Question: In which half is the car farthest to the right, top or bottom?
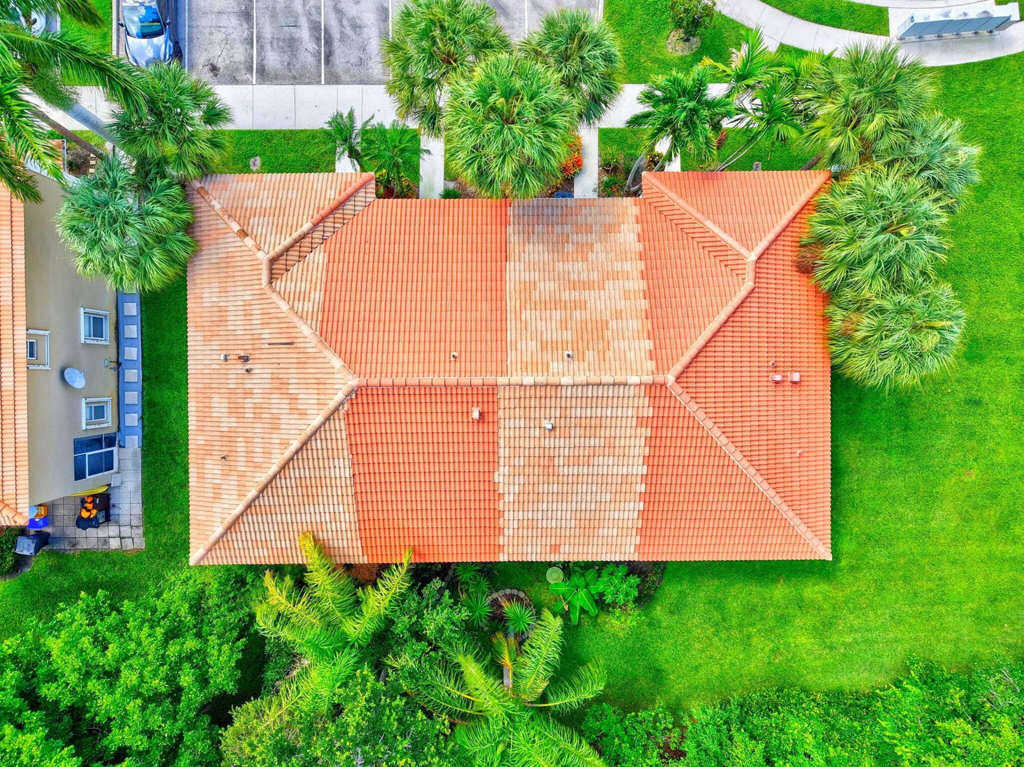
top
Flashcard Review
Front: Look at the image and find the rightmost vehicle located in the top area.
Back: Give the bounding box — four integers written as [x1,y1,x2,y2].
[115,0,179,67]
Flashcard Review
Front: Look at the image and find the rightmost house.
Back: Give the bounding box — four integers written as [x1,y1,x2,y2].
[186,169,834,566]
